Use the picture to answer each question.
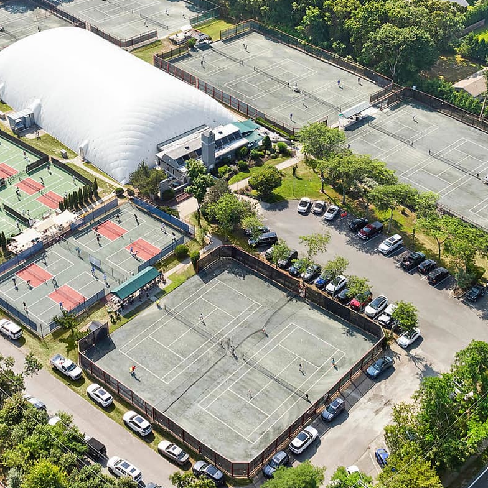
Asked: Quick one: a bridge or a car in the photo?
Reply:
car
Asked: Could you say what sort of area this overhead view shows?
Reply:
sports ground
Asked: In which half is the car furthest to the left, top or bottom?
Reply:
bottom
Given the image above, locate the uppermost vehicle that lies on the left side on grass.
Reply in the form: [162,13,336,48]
[0,319,23,340]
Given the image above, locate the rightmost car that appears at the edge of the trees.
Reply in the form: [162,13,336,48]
[465,281,488,301]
